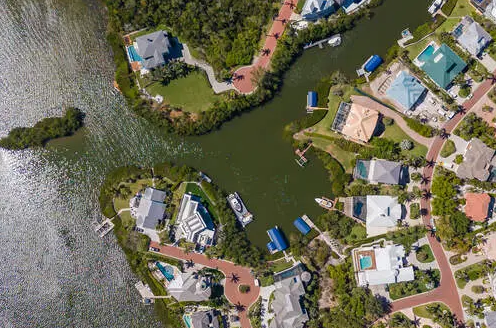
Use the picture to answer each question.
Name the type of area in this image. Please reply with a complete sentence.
What you see here is a residential area.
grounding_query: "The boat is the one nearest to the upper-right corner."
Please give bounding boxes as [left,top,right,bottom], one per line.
[426,0,441,16]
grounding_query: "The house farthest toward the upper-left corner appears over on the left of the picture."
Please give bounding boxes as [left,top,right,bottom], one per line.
[136,29,177,69]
